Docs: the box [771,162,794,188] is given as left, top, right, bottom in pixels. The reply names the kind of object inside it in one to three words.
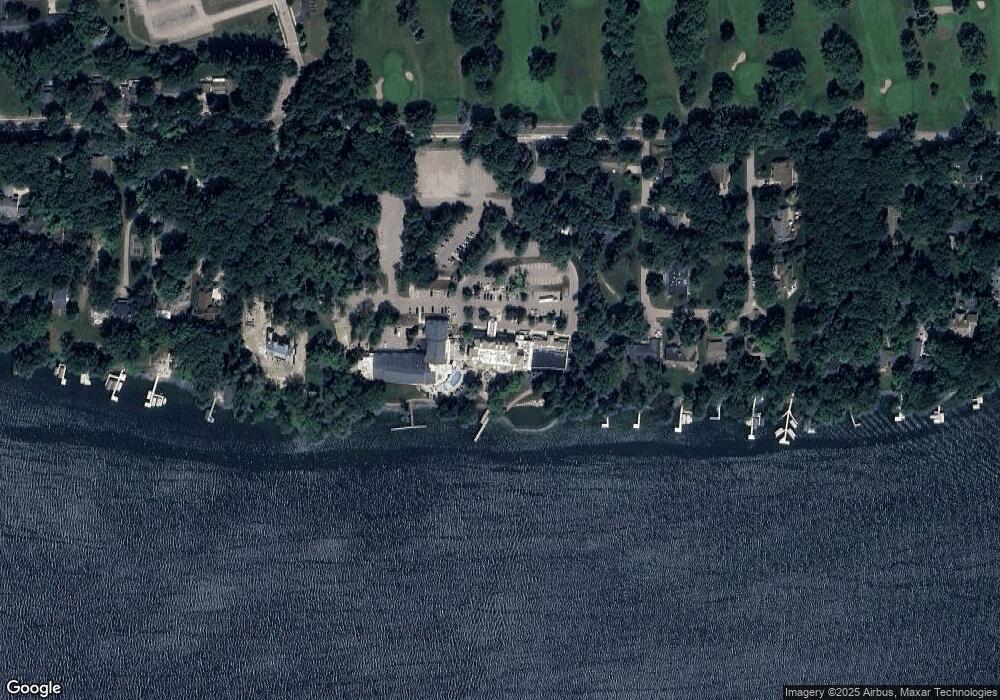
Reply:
house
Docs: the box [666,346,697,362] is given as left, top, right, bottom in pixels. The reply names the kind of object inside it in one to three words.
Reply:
house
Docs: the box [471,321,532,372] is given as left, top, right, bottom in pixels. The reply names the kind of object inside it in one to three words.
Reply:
building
